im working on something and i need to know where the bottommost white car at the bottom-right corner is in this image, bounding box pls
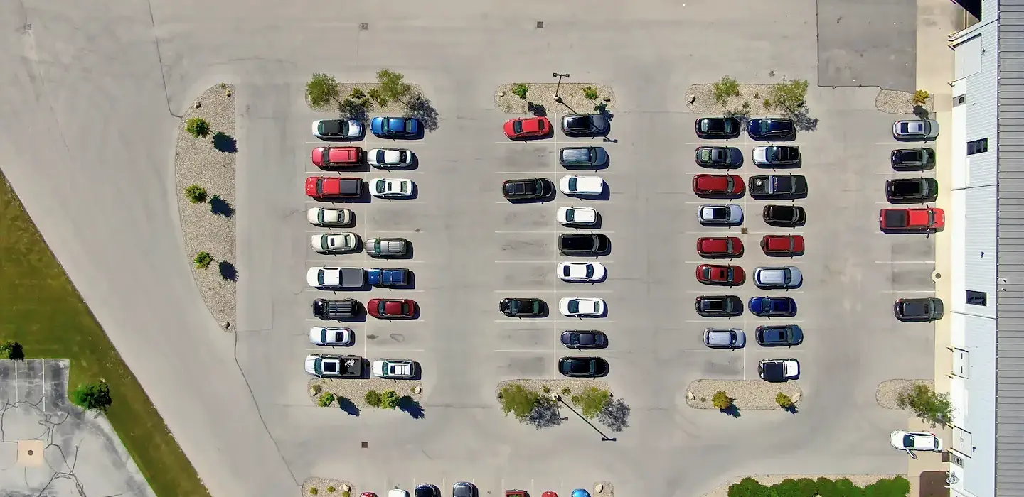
[888,430,943,459]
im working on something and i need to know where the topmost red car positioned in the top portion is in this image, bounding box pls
[504,117,550,140]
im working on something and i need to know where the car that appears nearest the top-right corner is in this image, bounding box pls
[891,117,940,140]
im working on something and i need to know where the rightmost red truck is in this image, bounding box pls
[878,206,946,231]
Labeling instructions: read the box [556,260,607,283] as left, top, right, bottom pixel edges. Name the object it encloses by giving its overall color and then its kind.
white car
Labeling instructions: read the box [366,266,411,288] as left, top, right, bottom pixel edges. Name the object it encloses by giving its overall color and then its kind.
blue car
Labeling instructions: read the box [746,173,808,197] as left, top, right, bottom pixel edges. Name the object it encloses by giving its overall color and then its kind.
black truck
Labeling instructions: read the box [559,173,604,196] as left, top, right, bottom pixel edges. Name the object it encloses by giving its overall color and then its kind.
white vehicle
